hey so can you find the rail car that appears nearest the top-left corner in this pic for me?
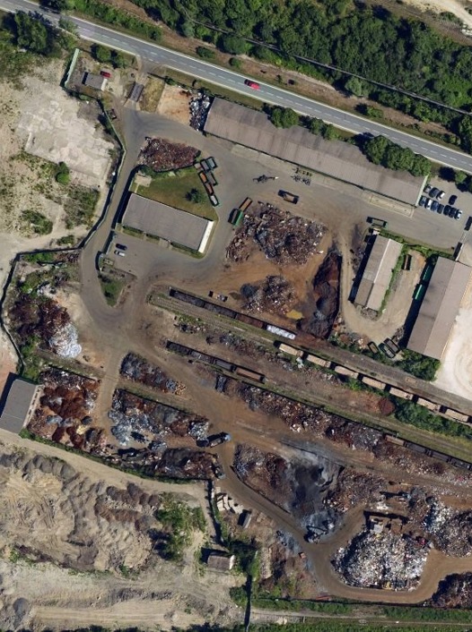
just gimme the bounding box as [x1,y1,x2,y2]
[168,287,206,308]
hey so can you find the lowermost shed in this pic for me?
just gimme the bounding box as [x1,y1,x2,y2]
[208,552,233,569]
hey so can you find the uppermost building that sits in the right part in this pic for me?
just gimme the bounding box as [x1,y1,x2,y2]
[204,98,429,207]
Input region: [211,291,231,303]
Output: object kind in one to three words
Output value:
vehicle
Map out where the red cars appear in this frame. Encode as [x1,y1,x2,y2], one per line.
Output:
[99,70,111,78]
[246,81,259,88]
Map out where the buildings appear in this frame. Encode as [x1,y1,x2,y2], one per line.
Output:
[85,73,110,91]
[204,98,429,207]
[121,193,219,253]
[208,552,233,569]
[407,257,472,359]
[353,235,405,311]
[0,377,43,435]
